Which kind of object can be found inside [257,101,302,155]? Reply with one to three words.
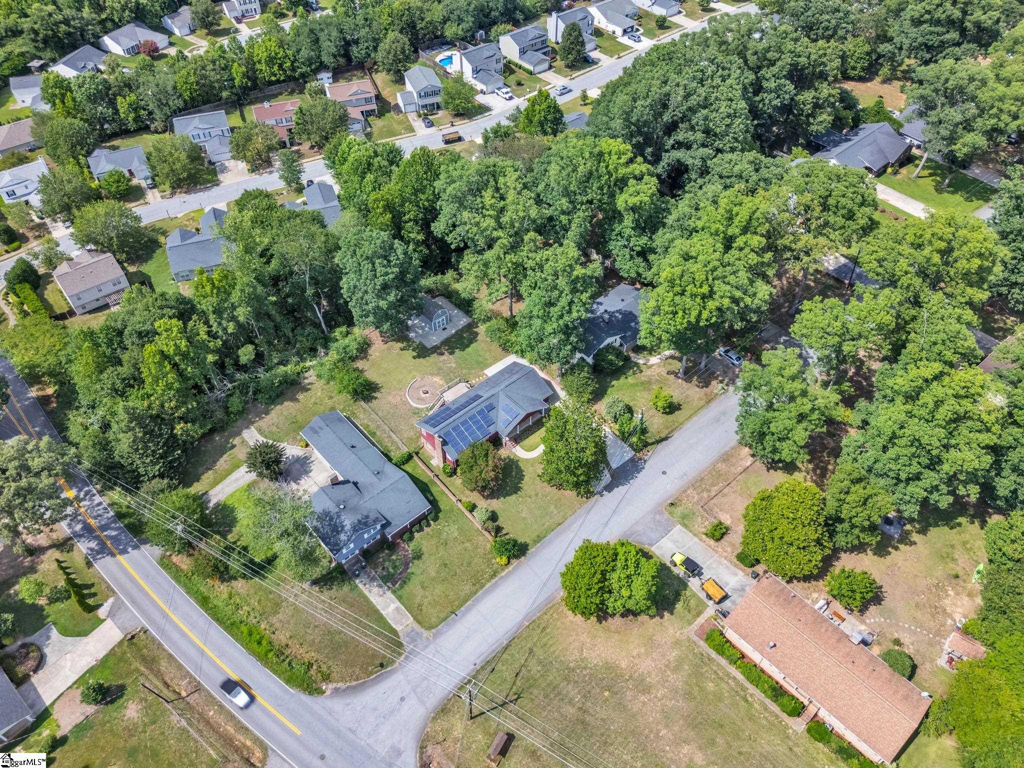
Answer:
house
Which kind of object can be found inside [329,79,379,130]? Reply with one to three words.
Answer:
house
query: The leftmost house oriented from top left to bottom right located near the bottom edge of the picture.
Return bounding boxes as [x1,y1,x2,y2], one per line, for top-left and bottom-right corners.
[720,573,931,766]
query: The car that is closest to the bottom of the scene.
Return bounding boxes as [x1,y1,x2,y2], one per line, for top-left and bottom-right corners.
[218,674,252,709]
